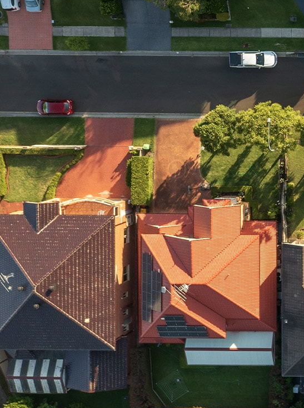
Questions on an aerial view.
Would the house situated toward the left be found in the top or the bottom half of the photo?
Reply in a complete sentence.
You can find the house situated toward the left in the bottom half.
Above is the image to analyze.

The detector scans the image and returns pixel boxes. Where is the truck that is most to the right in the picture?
[229,49,279,71]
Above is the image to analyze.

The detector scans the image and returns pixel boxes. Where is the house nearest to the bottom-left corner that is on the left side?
[0,196,136,394]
